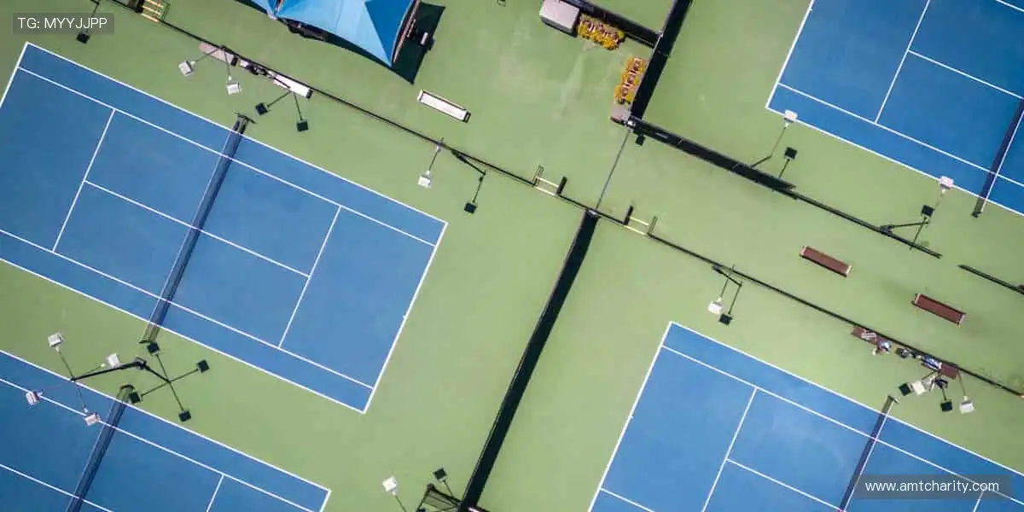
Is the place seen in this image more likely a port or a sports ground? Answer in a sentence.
What you see here is a sports ground.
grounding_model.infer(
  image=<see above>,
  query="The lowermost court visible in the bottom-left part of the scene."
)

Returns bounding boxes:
[0,349,330,512]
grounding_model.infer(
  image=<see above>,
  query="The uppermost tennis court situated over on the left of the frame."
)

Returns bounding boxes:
[0,44,447,414]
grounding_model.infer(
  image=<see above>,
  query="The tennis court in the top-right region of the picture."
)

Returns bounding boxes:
[767,0,1024,215]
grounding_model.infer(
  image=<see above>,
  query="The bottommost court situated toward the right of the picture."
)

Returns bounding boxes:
[589,323,1024,512]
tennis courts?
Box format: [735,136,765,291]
[767,0,1024,215]
[0,349,330,512]
[589,323,1024,512]
[0,44,447,414]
